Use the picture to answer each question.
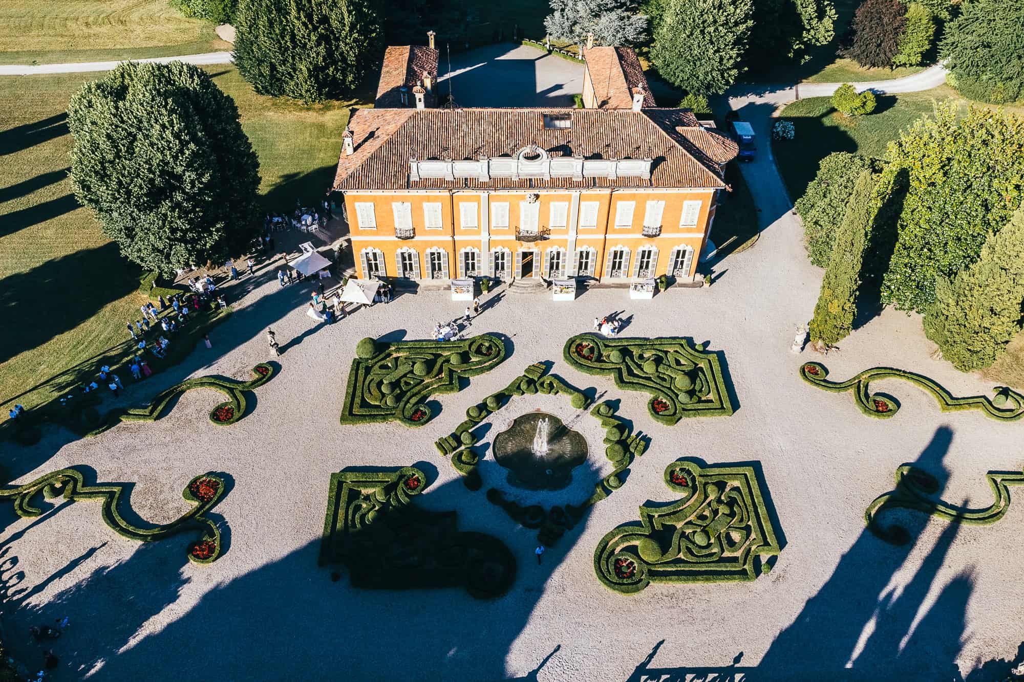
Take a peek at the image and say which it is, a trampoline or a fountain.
fountain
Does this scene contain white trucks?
No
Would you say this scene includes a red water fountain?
No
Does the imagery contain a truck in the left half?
No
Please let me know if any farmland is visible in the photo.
No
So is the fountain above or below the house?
below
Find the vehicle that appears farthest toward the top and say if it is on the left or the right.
right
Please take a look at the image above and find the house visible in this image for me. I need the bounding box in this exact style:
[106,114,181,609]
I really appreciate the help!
[328,17,740,296]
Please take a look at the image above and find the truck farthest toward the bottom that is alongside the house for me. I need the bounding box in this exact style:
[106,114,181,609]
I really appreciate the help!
[730,122,758,162]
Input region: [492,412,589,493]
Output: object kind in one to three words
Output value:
fountain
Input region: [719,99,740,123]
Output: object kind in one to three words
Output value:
vehicle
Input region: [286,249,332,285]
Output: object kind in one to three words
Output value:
umbrella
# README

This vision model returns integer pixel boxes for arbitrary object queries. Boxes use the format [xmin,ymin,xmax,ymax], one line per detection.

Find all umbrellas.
[339,278,383,314]
[286,249,332,285]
